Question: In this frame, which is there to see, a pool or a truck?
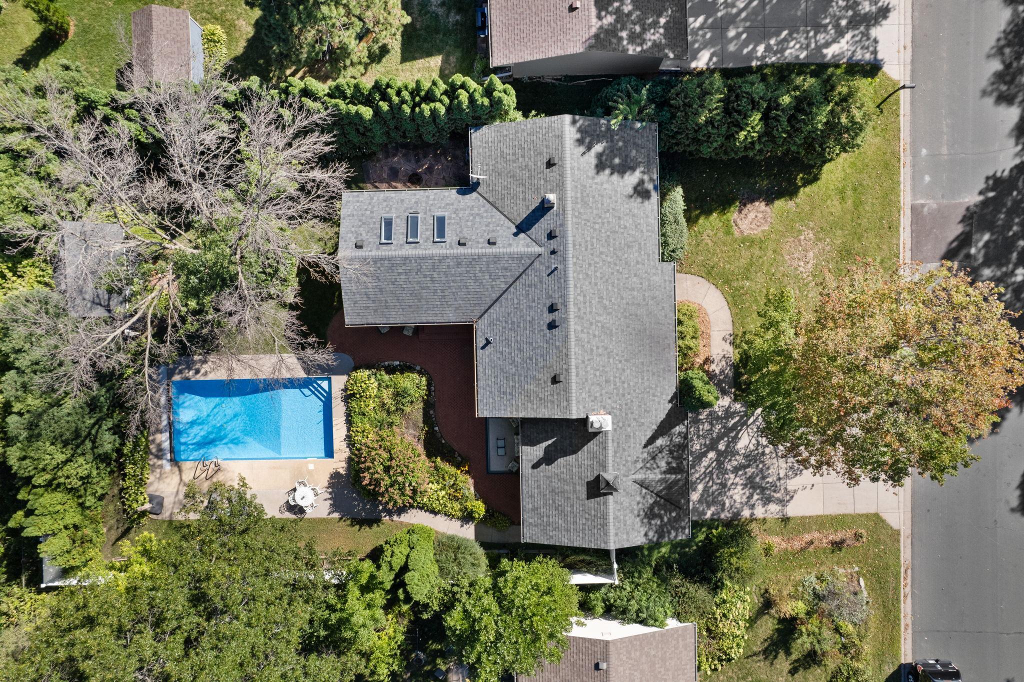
pool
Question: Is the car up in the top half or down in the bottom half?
bottom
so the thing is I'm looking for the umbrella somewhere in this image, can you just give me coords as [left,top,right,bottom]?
[133,495,163,515]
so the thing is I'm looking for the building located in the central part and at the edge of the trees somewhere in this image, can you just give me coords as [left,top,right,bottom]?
[341,115,693,549]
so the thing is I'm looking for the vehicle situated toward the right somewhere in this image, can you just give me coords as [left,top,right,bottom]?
[914,655,961,682]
